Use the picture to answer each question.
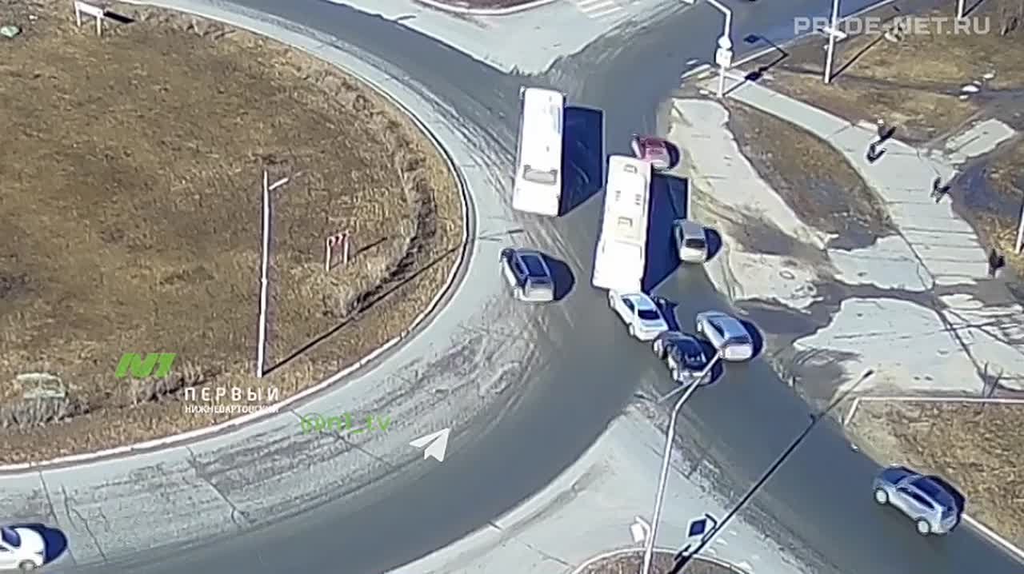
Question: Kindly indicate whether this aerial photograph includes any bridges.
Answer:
No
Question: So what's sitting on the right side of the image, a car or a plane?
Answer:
car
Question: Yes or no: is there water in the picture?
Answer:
No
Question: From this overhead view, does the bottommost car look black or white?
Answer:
white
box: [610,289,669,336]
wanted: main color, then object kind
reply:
white car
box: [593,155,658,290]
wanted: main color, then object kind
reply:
white bus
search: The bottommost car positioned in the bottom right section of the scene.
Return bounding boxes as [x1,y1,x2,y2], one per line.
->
[873,470,966,535]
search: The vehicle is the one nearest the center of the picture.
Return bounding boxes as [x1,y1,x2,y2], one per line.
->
[504,251,556,298]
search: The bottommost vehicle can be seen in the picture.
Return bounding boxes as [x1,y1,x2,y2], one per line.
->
[0,525,48,572]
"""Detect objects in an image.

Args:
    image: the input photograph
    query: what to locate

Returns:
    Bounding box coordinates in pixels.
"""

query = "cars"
[627,134,671,169]
[655,335,715,384]
[504,251,556,298]
[610,289,669,336]
[0,525,48,572]
[699,313,754,359]
[672,222,711,261]
[873,470,966,535]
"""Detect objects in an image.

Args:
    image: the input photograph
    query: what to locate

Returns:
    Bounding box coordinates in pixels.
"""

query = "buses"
[593,155,658,290]
[514,87,568,214]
